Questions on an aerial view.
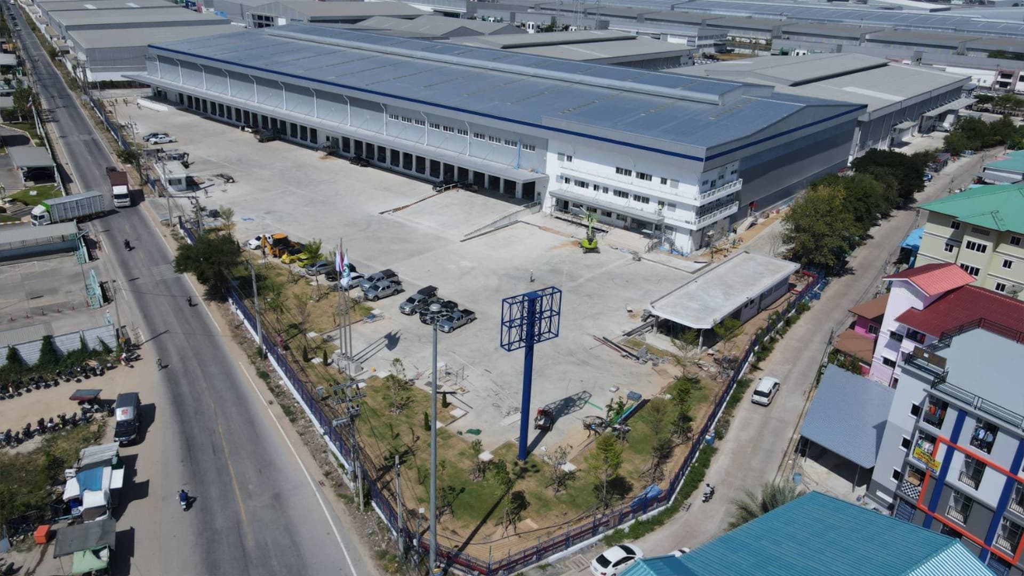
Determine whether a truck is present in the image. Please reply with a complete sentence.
Yes, the frame does contain a truck.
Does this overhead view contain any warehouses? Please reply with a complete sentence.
Yes, a warehouse appears in the view.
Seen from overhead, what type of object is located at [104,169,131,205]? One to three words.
truck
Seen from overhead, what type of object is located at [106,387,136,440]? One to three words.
truck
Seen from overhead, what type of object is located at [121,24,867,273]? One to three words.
warehouse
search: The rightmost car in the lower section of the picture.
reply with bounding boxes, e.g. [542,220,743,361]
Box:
[750,373,782,402]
